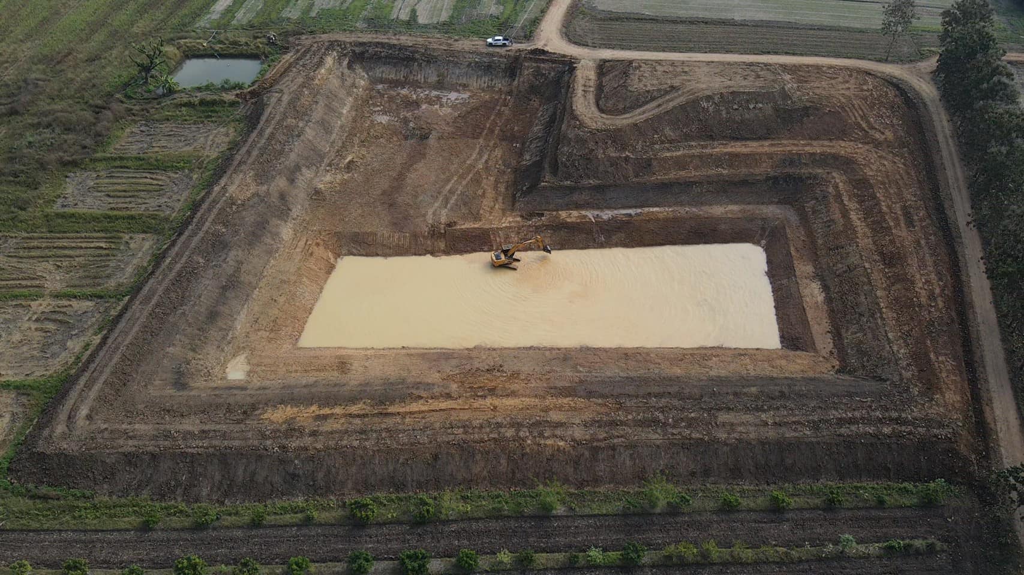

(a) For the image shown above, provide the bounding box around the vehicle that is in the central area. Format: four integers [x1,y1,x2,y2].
[485,234,550,273]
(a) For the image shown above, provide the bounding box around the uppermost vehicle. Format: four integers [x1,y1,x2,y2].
[487,35,513,47]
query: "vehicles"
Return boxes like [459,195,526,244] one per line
[487,35,513,47]
[485,234,550,273]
